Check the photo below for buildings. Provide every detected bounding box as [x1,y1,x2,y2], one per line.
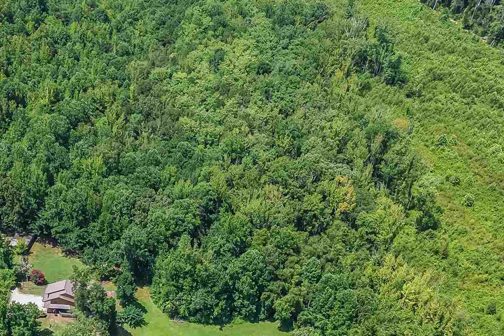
[42,270,88,314]
[11,233,34,253]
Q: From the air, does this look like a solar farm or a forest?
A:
forest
